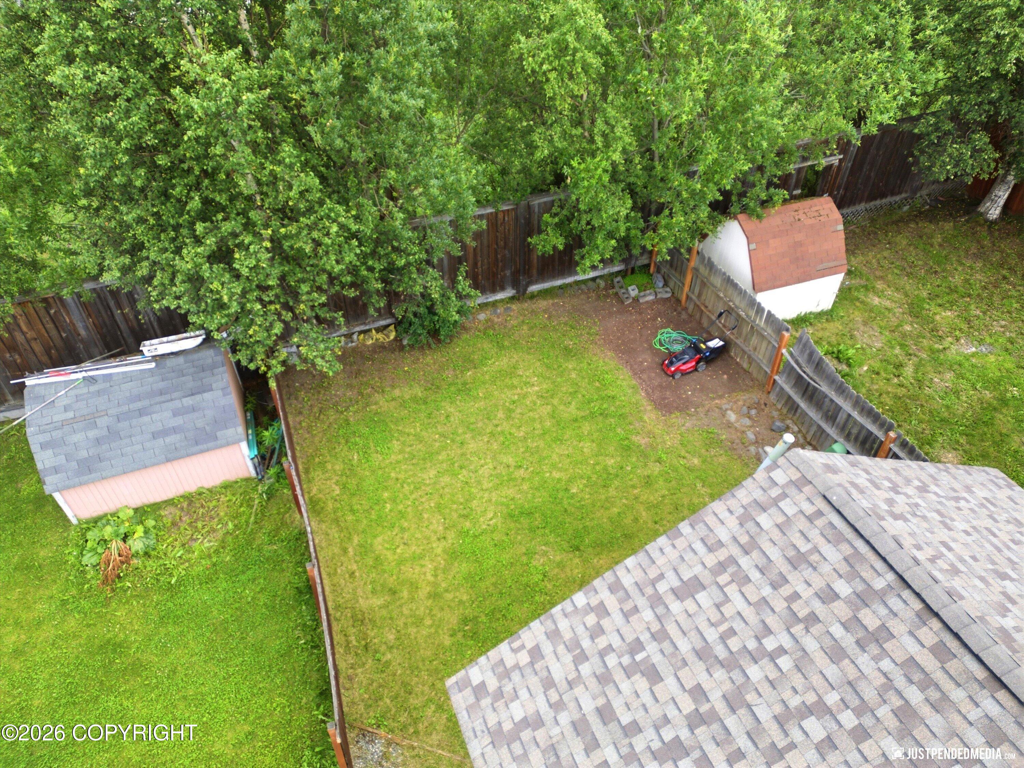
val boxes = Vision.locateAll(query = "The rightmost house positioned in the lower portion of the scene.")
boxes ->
[444,447,1024,768]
